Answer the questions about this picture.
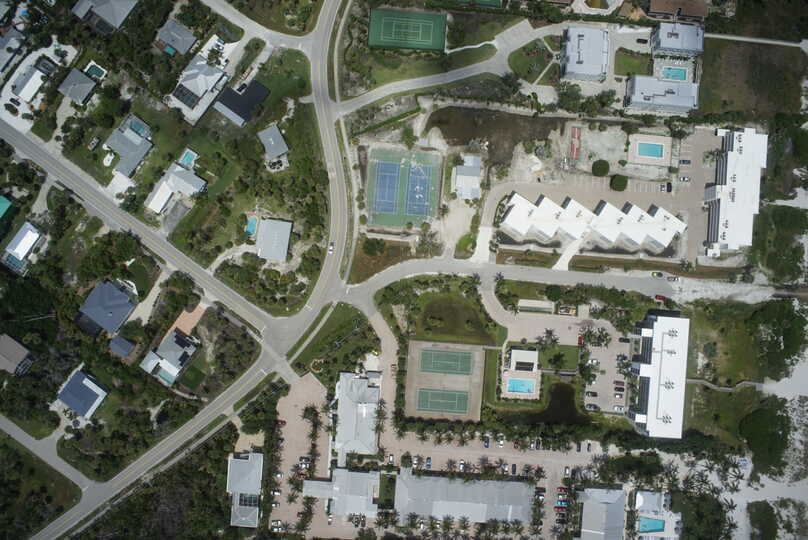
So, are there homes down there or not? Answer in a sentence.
Yes, looking at the shot, I can spot a home.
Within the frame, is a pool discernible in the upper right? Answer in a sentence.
Yes, in the upper right there is a pool.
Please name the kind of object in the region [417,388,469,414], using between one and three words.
tennis court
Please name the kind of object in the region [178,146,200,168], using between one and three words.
swimming pool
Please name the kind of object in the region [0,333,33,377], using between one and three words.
house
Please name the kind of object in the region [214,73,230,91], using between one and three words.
camper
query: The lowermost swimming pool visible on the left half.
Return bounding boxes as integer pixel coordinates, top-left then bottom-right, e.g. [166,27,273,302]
[152,366,175,390]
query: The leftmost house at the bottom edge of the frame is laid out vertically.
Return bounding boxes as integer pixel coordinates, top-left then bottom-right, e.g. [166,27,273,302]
[227,451,265,528]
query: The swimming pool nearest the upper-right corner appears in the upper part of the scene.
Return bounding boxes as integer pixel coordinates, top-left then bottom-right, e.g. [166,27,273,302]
[655,57,699,83]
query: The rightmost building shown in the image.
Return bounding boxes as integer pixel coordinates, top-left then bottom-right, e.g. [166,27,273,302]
[701,128,769,257]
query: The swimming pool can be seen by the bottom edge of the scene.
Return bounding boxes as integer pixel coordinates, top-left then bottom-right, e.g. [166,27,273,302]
[633,489,682,540]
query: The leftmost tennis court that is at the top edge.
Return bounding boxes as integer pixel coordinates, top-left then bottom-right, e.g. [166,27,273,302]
[368,6,447,50]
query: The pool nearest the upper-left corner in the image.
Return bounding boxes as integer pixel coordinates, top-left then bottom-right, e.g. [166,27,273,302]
[14,2,29,27]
